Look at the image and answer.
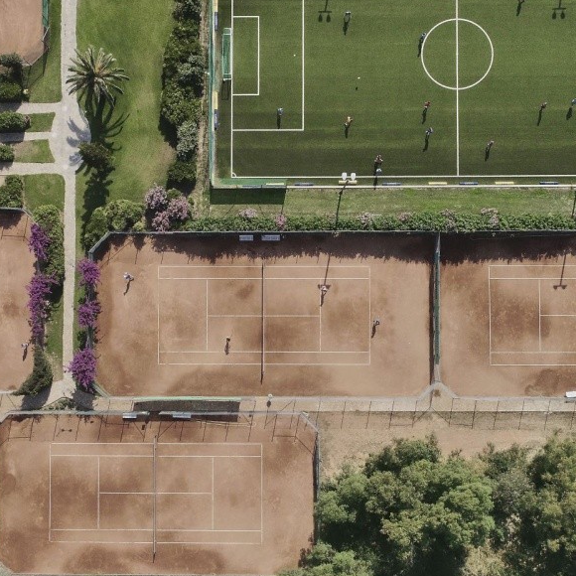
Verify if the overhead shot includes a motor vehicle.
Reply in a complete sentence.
No, the scene contains no motor vehicle.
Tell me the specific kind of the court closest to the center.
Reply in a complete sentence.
The court closest to the center can be classified as a tennis court.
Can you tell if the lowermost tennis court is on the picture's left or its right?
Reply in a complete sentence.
The lowermost tennis court appears in the left half of the scene.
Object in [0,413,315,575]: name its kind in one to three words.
tennis court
